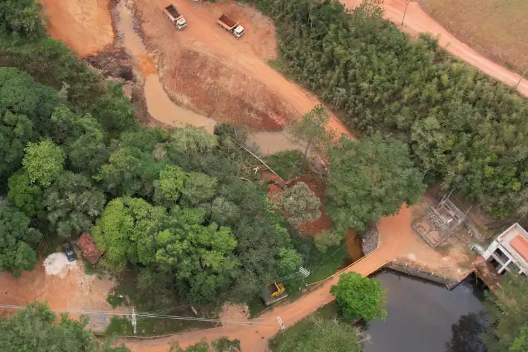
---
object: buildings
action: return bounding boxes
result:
[72,233,107,274]
[465,215,528,300]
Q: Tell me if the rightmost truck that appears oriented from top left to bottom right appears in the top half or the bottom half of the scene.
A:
top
